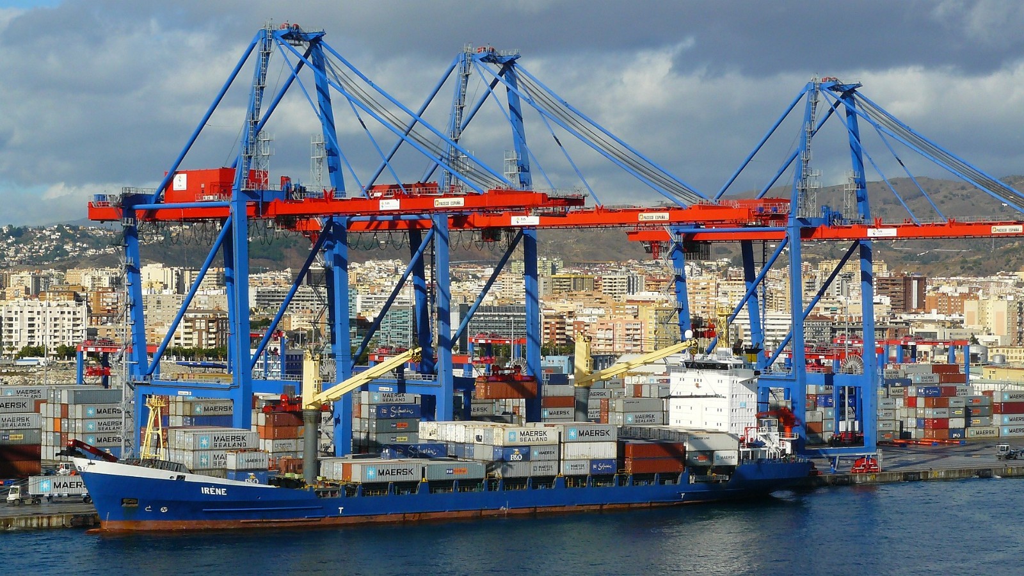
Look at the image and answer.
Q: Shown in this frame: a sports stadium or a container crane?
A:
container crane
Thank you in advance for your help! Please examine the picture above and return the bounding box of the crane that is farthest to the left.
[77,338,198,438]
